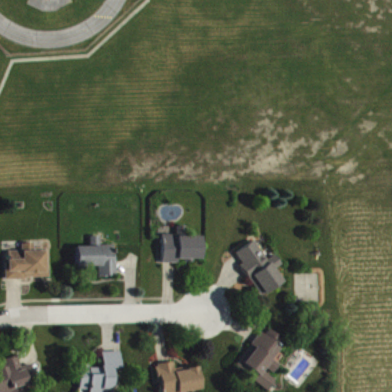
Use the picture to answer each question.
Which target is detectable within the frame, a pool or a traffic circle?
pool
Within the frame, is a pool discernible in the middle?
Yes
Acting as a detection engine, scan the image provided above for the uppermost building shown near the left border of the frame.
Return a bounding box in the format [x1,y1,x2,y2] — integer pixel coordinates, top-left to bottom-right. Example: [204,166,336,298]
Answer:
[6,243,50,280]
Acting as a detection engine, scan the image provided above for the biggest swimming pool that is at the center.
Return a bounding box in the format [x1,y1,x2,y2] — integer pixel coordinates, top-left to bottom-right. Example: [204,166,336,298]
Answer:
[158,203,186,223]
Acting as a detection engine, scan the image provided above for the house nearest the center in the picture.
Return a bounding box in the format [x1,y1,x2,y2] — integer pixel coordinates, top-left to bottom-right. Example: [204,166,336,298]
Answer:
[162,234,207,263]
